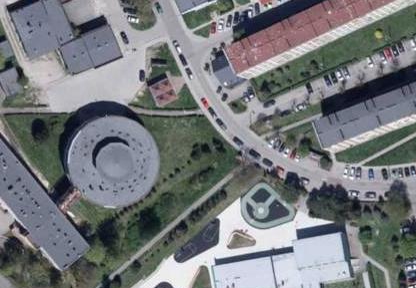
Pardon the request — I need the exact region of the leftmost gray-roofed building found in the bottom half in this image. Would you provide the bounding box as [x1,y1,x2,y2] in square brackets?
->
[0,126,99,272]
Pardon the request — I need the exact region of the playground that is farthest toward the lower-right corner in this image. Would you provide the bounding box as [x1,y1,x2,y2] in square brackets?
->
[241,183,296,228]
